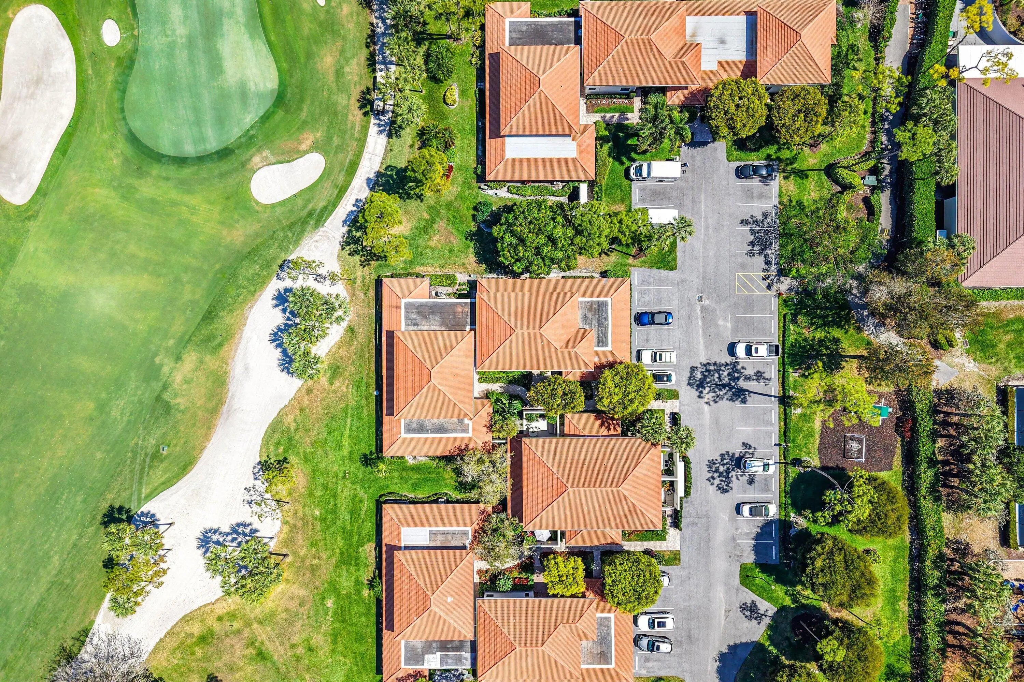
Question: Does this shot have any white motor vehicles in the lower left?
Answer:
No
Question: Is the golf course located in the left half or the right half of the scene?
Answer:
left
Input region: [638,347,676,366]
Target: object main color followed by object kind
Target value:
white car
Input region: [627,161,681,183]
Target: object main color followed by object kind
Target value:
white truck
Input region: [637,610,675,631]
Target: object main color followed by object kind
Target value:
white car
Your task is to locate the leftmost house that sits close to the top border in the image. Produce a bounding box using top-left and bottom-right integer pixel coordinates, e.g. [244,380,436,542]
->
[485,0,595,181]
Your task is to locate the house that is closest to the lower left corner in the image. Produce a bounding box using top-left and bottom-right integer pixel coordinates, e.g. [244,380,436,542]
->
[381,503,492,682]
